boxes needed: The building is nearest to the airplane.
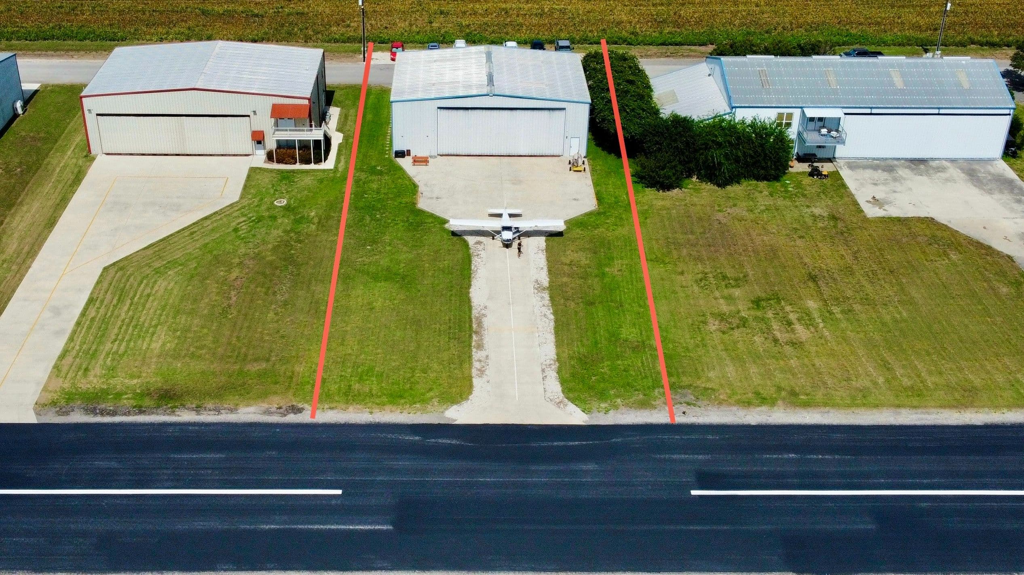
[390,44,591,157]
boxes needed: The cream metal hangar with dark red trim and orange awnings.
[79,40,328,154]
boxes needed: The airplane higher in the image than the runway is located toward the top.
[450,199,564,249]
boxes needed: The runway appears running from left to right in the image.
[0,423,1024,572]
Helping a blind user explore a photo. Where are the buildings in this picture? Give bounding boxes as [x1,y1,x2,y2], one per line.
[390,44,591,157]
[79,40,328,154]
[704,54,1018,160]
[0,53,24,131]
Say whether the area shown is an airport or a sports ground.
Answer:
airport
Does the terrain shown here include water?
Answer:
No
